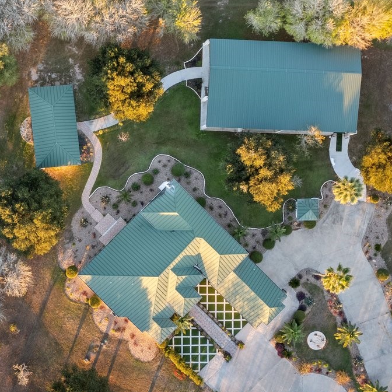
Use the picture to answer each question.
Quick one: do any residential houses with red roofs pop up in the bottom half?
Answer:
No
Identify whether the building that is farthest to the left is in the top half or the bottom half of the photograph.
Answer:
top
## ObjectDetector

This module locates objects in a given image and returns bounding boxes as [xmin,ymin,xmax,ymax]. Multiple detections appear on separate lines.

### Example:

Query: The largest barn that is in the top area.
[201,36,362,135]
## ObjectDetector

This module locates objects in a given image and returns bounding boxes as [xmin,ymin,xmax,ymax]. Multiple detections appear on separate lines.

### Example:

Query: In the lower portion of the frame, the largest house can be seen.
[77,178,288,343]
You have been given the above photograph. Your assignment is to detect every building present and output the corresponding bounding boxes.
[28,84,82,168]
[293,198,318,220]
[77,178,288,343]
[201,36,362,135]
